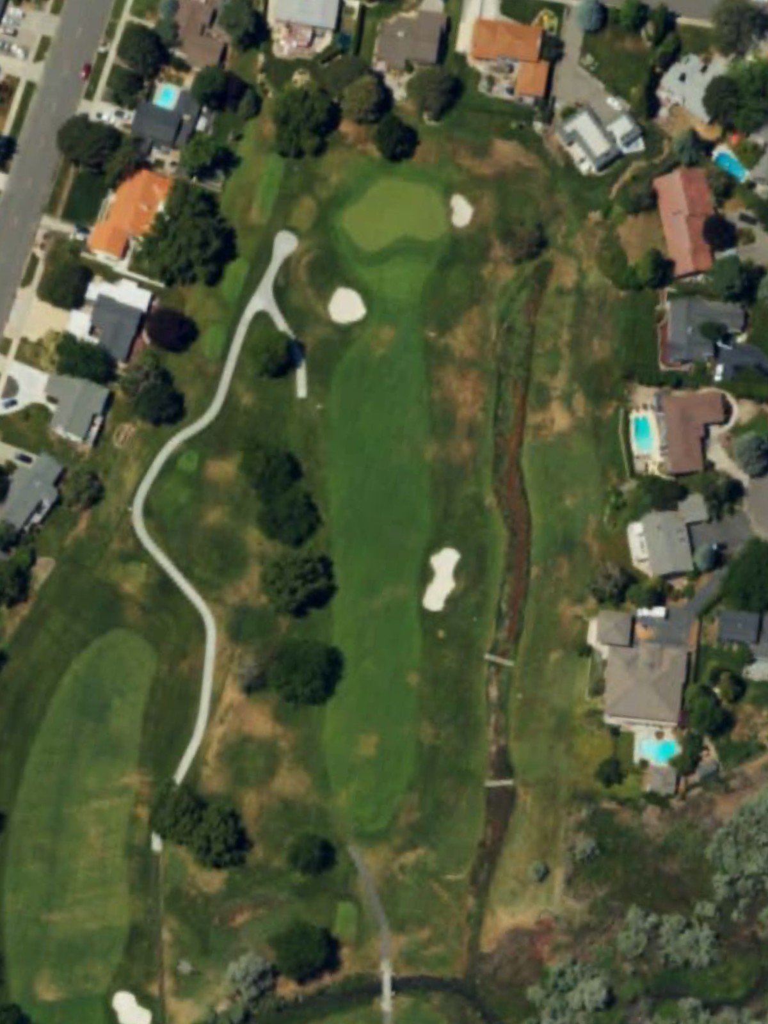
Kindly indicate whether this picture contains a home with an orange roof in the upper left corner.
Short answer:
Yes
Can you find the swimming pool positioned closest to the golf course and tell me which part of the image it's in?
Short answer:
top left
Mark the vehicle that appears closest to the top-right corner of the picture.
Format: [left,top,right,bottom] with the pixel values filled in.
[607,95,621,109]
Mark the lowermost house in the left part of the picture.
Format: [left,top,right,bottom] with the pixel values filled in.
[0,446,72,535]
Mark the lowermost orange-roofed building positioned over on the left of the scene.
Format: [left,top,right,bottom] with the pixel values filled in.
[89,169,175,257]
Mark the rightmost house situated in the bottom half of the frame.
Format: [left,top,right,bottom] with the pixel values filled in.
[719,612,768,654]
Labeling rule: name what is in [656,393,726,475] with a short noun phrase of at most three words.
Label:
house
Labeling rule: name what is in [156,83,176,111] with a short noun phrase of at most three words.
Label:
swimming pool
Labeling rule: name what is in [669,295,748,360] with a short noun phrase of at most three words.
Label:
house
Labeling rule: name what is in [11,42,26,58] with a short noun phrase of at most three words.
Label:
vehicle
